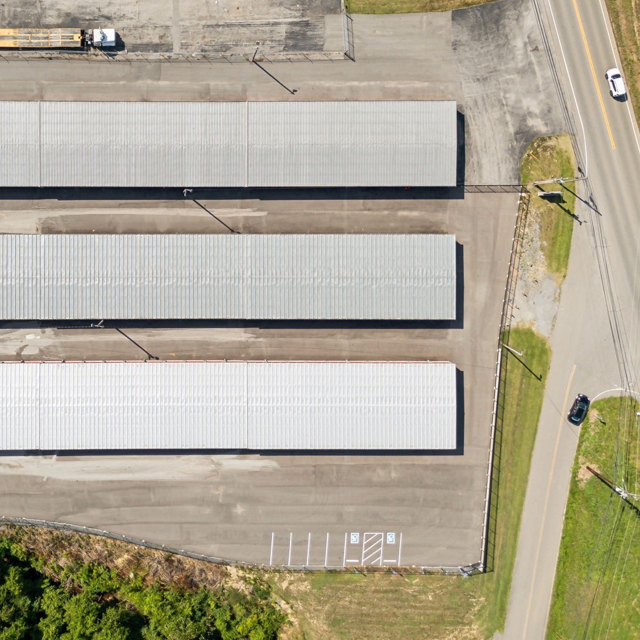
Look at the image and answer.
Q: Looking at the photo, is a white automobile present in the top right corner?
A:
Yes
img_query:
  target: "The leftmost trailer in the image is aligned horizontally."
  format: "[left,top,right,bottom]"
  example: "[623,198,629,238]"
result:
[0,28,94,48]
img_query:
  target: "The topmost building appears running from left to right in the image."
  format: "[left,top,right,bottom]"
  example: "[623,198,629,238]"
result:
[0,99,457,189]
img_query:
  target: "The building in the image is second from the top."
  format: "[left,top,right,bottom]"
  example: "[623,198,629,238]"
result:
[0,233,457,321]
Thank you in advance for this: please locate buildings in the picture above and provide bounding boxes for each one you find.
[0,99,457,189]
[0,359,457,451]
[0,233,457,321]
